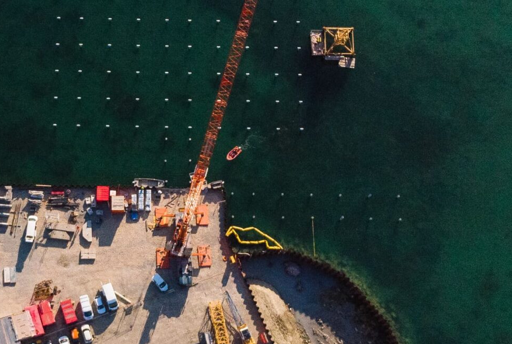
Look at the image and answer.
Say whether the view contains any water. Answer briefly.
Yes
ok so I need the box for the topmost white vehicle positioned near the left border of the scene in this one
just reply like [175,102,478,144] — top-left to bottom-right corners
[24,216,38,243]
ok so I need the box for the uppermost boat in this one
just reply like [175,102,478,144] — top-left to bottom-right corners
[227,145,241,161]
